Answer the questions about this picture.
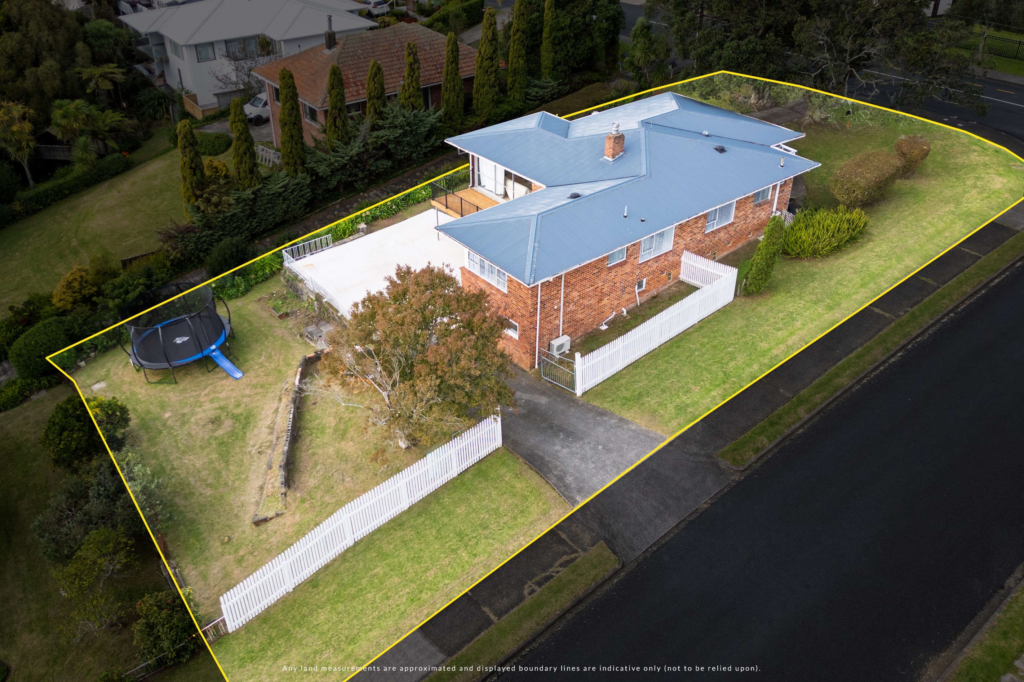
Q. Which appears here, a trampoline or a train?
trampoline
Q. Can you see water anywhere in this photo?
No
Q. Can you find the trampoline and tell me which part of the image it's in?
left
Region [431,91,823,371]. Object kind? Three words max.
house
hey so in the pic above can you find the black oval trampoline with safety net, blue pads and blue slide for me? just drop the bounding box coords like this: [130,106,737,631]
[121,281,247,387]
